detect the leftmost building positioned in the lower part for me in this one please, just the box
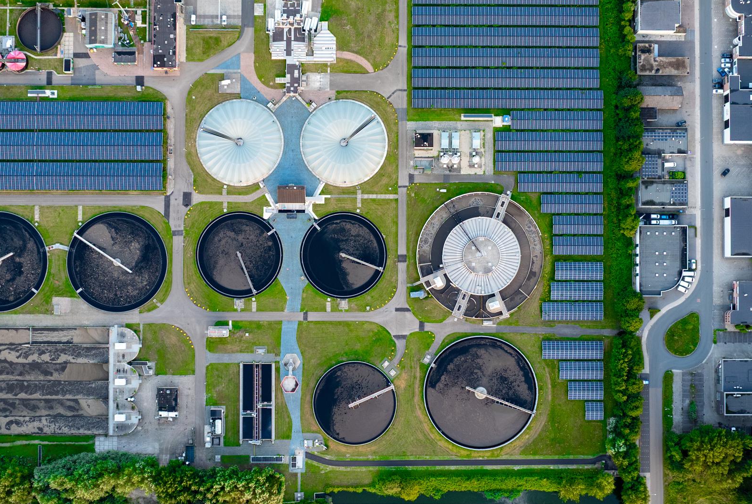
[158,386,179,416]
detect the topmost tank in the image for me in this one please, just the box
[16,1,65,54]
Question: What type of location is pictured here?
industrial area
